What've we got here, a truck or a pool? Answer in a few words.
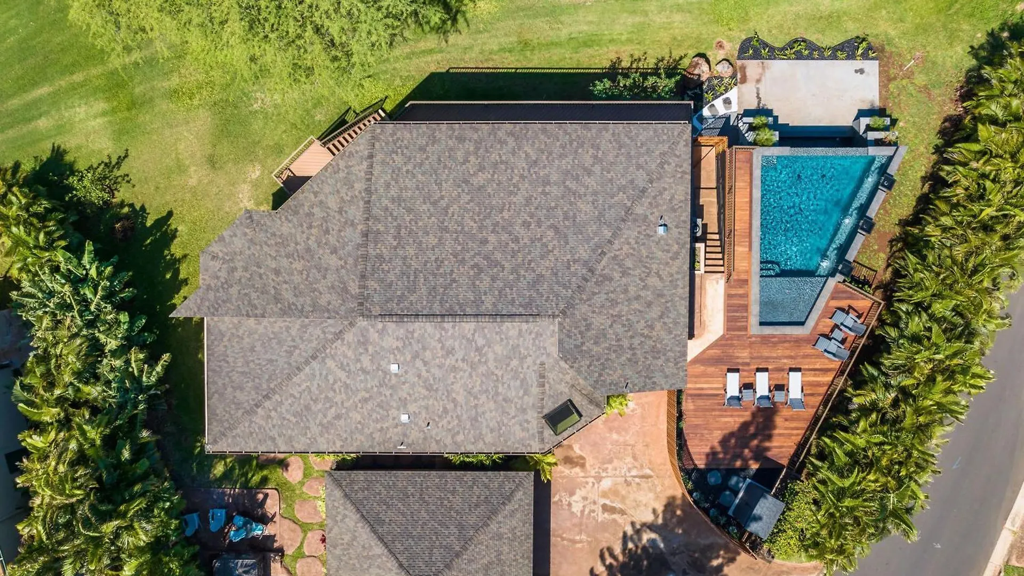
pool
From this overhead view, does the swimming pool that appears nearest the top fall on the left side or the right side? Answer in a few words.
right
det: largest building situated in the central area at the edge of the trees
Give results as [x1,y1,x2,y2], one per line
[170,100,694,456]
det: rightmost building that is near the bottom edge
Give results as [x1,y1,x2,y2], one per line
[324,466,535,576]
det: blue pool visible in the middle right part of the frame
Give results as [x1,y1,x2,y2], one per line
[751,137,907,334]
